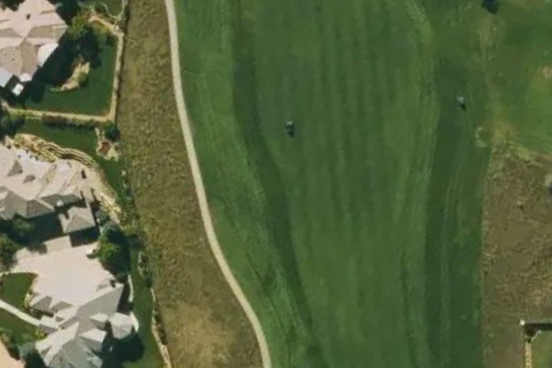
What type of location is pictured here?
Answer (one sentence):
It's a golf course.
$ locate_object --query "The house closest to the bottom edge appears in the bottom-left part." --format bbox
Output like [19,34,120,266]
[31,266,137,368]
